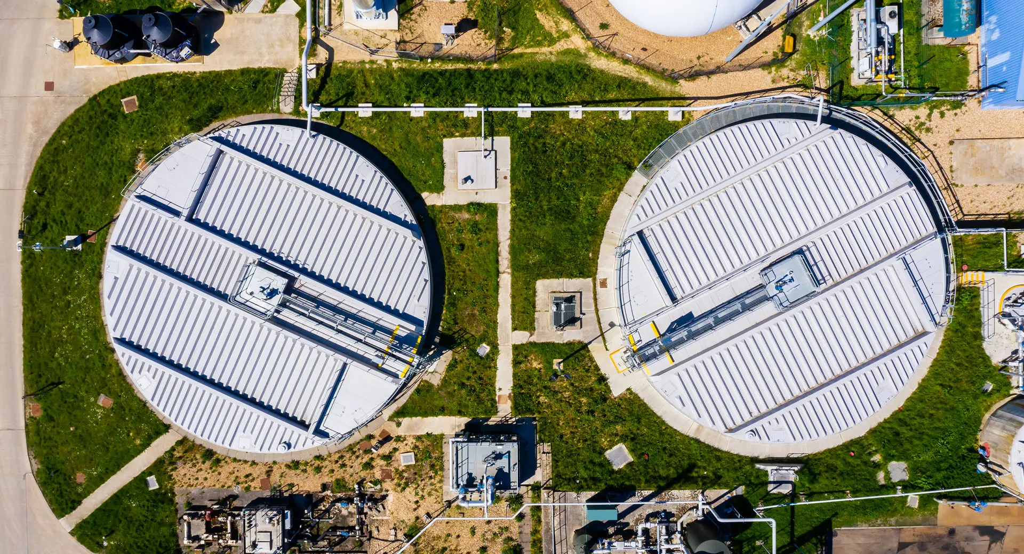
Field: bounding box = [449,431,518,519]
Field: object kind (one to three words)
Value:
building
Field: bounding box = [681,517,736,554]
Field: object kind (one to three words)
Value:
storage tank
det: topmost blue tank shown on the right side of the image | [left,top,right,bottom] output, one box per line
[938,0,981,39]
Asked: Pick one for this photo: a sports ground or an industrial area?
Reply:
industrial area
